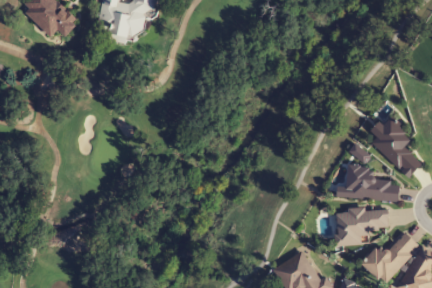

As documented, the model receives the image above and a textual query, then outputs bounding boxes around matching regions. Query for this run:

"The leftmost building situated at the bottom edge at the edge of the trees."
[274,249,334,288]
